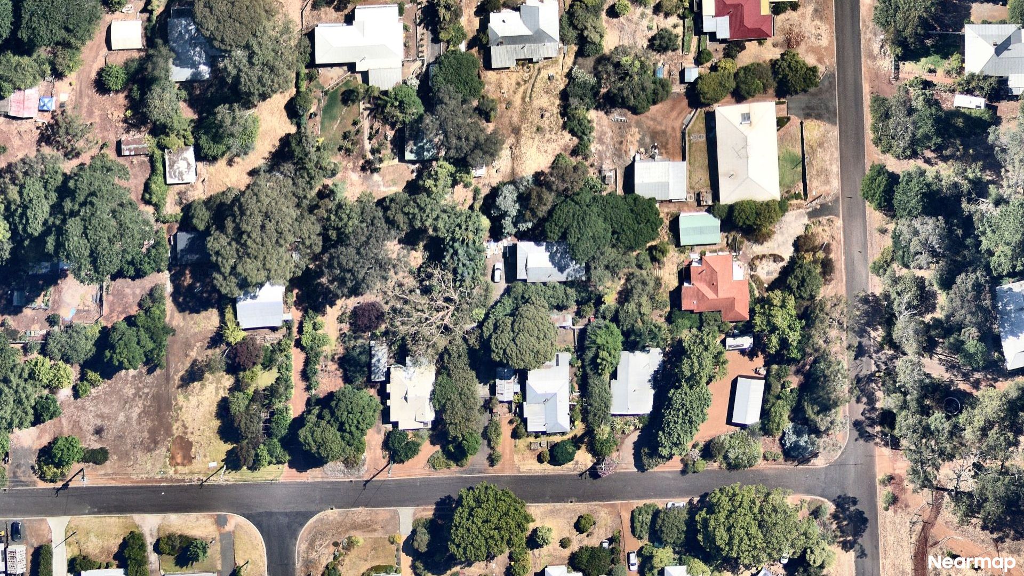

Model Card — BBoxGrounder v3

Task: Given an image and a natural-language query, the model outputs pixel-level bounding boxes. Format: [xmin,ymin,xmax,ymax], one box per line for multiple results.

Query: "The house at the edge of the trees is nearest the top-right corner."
[964,22,1024,96]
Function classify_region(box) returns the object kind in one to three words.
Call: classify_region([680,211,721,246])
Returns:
shed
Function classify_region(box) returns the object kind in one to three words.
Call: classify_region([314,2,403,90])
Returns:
house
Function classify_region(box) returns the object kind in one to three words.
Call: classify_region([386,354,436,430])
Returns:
house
